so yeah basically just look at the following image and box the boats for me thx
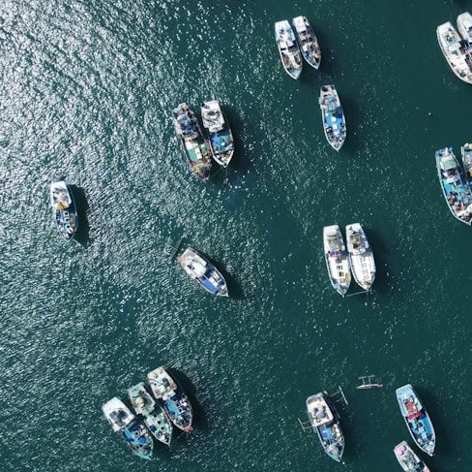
[49,180,79,241]
[457,10,472,55]
[436,19,472,84]
[179,248,230,297]
[274,18,302,81]
[147,366,192,431]
[345,222,375,292]
[101,396,153,461]
[436,147,472,226]
[202,100,233,168]
[129,382,173,446]
[320,85,346,152]
[292,15,322,70]
[357,375,383,388]
[324,224,351,298]
[308,392,343,463]
[462,145,472,189]
[174,105,210,183]
[395,438,430,472]
[396,382,434,458]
